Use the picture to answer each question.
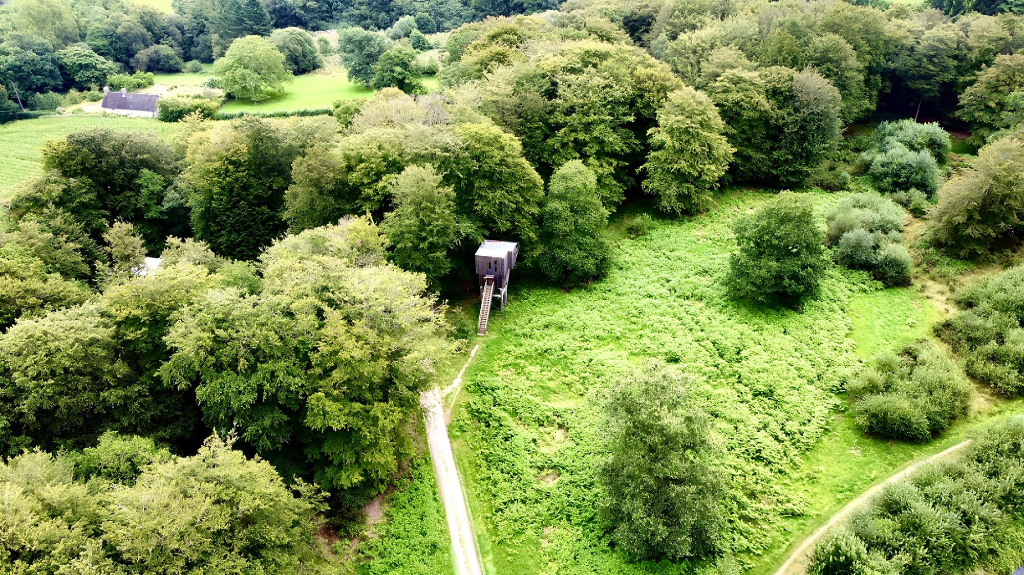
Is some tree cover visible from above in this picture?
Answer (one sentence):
Yes, tree cover shows up in the scene.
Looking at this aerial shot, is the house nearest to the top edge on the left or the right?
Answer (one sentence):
You can find the house nearest to the top edge on the left side of the picture.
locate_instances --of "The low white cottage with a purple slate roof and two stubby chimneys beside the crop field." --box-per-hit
[100,88,159,121]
